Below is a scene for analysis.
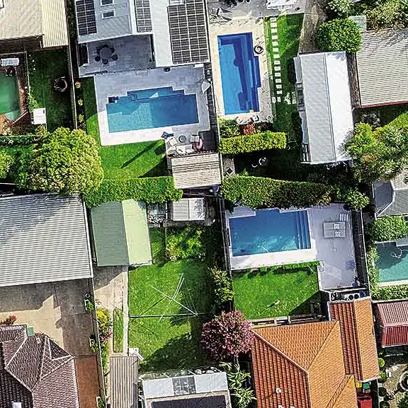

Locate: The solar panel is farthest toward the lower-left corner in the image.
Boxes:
[154,395,224,408]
